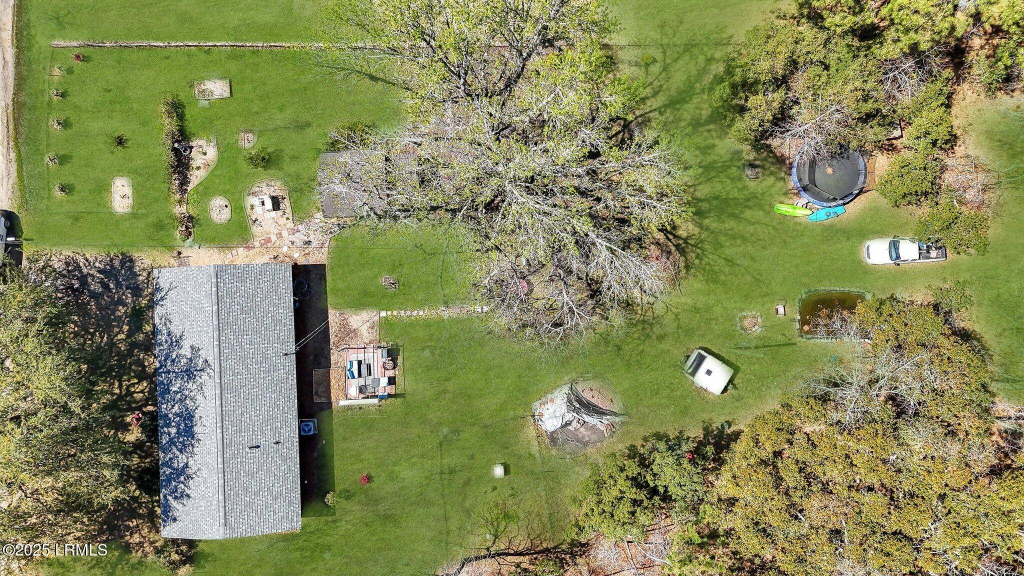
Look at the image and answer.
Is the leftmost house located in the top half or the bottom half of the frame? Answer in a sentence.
Seen from above, the leftmost house lies in the bottom half of the view.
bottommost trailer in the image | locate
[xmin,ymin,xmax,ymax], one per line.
[680,345,737,393]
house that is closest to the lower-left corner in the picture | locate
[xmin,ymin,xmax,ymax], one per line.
[152,264,307,542]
